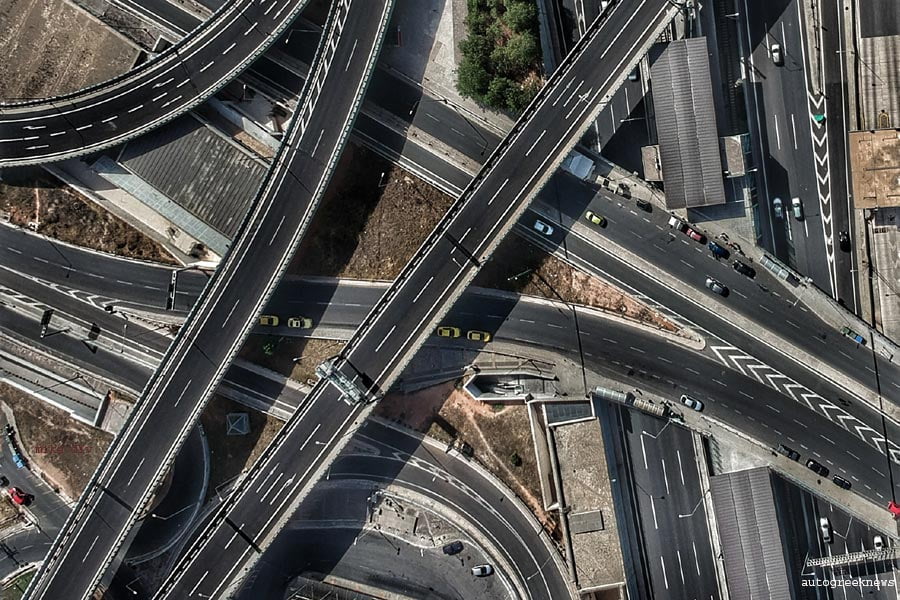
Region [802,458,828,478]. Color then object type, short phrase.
black car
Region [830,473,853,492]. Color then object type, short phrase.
black car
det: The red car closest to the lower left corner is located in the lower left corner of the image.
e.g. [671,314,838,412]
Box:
[4,487,29,508]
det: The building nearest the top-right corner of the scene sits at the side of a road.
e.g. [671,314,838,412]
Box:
[849,129,900,209]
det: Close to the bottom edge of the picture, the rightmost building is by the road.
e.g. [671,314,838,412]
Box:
[541,395,626,593]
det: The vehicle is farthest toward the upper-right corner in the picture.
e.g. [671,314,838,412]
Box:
[769,41,782,65]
